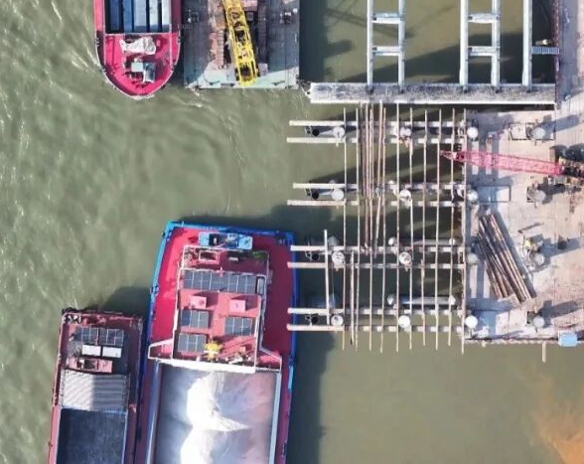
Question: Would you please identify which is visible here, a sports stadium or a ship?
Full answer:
Of the two, only a ship appears.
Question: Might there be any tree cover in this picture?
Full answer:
No, no tree cover is visible.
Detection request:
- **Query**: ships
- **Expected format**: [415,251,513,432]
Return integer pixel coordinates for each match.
[46,306,144,464]
[94,0,183,96]
[140,221,295,464]
[184,0,299,90]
